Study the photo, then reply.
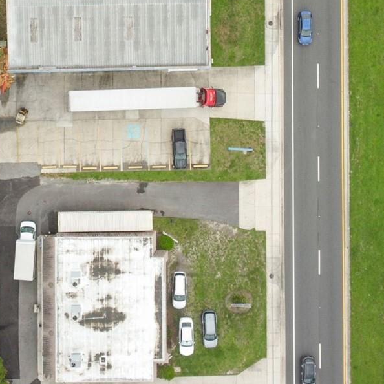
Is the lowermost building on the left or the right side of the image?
left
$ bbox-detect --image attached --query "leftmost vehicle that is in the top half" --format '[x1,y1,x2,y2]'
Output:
[15,106,30,125]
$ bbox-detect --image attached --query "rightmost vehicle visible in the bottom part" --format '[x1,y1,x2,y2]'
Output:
[299,355,318,384]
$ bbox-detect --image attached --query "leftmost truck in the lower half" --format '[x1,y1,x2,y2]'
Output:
[13,219,36,282]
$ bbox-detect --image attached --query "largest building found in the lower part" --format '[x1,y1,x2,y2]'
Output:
[32,231,168,382]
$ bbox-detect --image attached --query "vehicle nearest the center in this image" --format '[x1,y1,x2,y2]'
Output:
[171,127,190,169]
